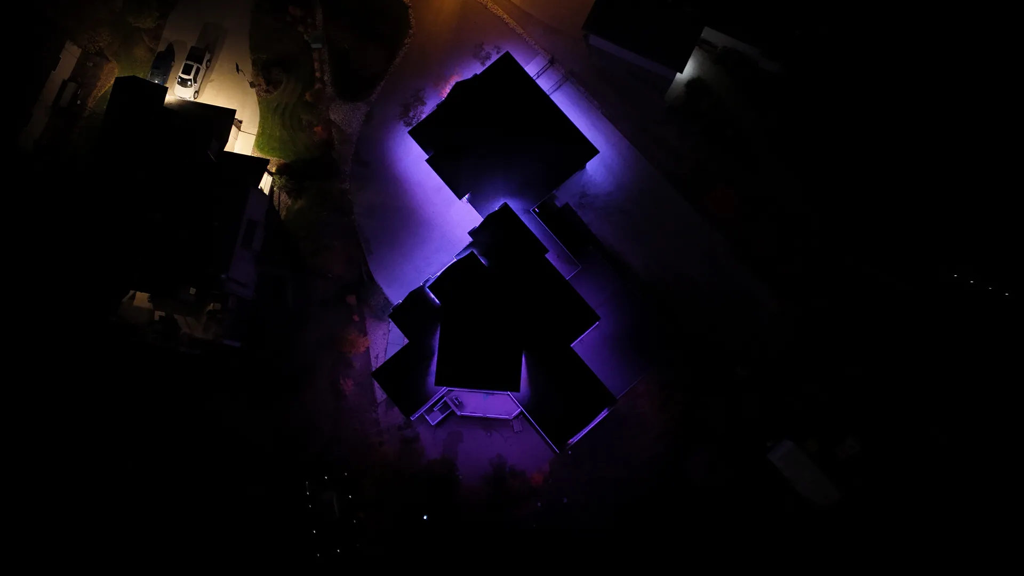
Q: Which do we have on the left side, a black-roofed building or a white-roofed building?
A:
black-roofed building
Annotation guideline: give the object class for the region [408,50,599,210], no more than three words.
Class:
building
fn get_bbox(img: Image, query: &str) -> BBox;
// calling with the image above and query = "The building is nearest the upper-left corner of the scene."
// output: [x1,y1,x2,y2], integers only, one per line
[0,0,82,161]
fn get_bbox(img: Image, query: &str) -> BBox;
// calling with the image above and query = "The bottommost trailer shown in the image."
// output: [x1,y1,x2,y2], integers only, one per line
[765,432,843,513]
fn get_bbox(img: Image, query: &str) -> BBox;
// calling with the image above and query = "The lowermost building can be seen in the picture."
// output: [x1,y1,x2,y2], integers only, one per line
[372,190,617,454]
